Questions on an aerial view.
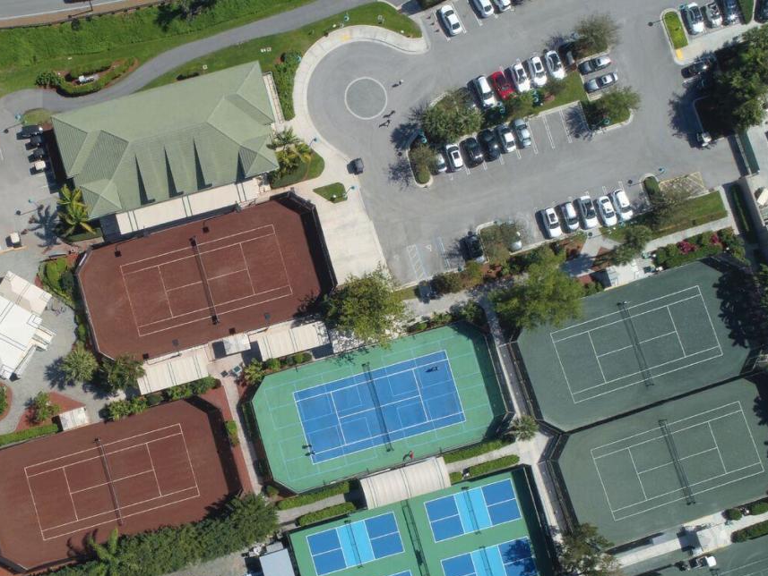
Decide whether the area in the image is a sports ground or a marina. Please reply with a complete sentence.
This image shows a sports ground.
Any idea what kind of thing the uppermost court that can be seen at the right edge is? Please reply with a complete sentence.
Specifically, the uppermost court that can be seen at the right edge is a tennis court.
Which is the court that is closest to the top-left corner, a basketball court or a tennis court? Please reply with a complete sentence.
It turns out the court that is closest to the top-left corner is a tennis court.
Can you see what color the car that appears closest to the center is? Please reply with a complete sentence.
The car that appears closest to the center looks black in the image.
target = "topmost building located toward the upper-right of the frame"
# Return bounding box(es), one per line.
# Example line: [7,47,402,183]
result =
[732,131,761,175]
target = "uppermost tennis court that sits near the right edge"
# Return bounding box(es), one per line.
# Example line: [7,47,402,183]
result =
[524,262,758,428]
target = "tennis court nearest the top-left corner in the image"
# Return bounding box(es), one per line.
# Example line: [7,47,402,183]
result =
[79,197,333,364]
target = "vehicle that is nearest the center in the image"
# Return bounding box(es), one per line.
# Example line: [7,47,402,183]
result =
[462,231,485,265]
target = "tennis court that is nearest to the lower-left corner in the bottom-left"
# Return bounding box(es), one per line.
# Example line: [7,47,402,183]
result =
[0,395,241,570]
